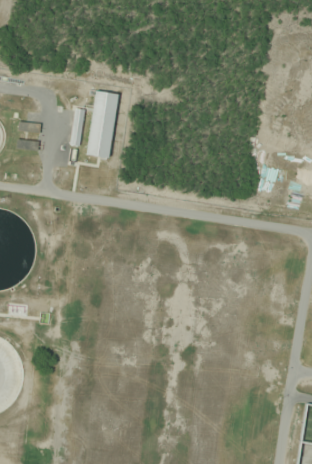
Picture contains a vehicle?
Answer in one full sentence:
No, there's no vehicle here.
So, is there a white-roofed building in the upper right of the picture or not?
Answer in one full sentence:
No, the scene shows no white-roofed building in the upper right of the picture.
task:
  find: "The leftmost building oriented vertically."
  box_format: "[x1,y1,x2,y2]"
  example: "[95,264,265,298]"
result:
[70,107,86,146]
